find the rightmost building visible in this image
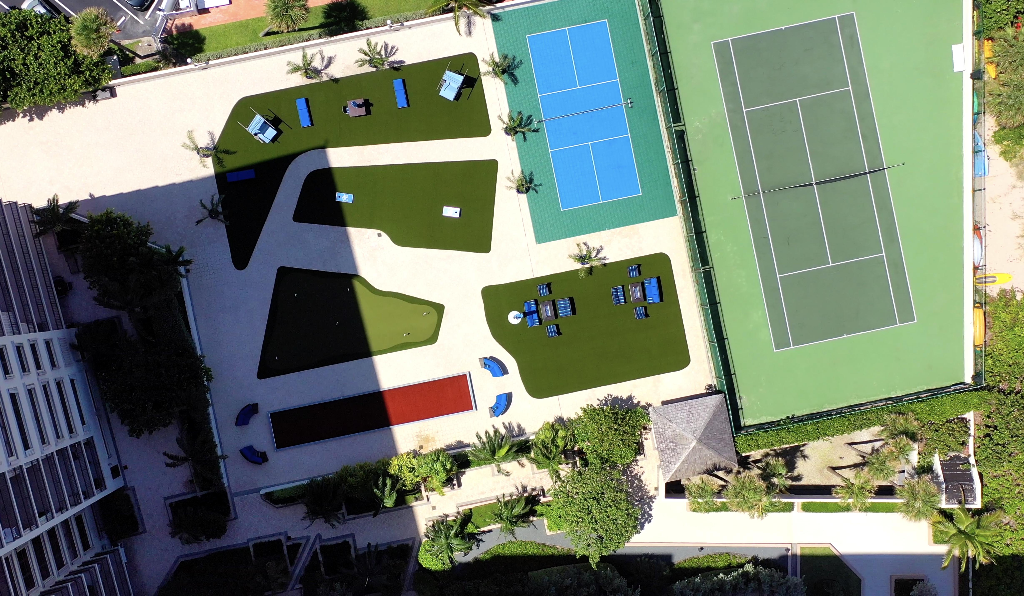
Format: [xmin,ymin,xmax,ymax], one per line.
[649,393,738,483]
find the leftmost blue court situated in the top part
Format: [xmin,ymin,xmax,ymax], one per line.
[491,0,678,244]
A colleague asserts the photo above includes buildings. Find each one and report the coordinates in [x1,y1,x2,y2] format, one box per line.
[649,393,738,483]
[0,198,140,596]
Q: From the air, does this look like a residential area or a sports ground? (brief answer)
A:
sports ground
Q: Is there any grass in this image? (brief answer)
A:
Yes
